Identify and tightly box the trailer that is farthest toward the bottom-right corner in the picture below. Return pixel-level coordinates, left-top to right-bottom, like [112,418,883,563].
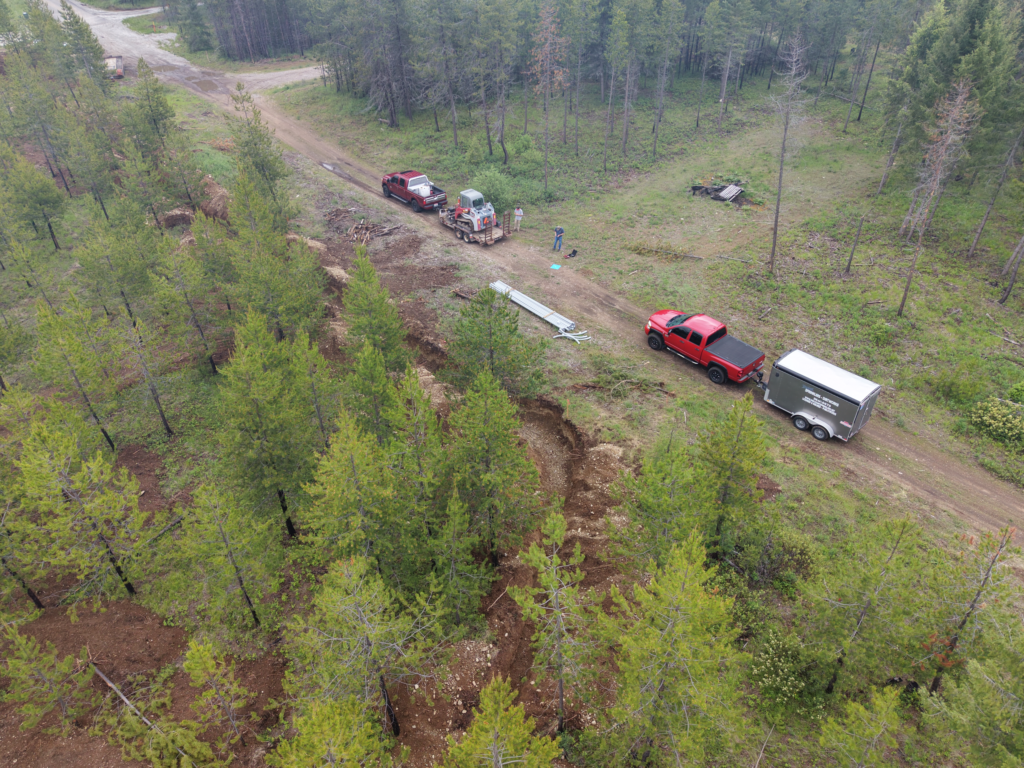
[754,348,882,440]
